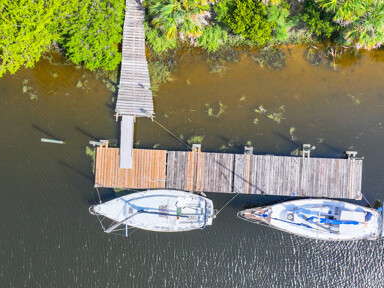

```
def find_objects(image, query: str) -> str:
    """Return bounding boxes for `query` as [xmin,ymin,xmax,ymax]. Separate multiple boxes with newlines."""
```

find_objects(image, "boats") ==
[87,191,219,237]
[237,200,384,243]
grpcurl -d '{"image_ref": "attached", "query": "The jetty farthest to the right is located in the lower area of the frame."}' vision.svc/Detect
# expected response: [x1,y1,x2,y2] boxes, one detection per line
[234,155,363,200]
